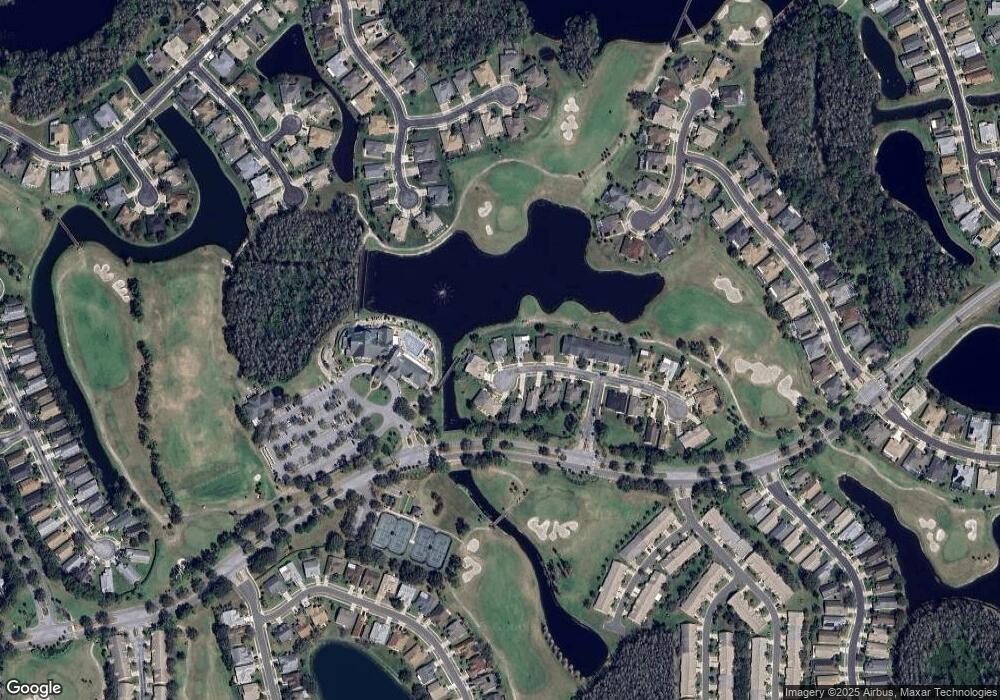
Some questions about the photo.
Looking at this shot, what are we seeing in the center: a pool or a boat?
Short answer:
pool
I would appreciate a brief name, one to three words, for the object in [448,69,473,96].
house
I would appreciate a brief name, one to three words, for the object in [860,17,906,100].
pond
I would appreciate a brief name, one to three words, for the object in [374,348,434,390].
building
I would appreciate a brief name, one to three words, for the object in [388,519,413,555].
tennis court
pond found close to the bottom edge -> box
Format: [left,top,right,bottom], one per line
[312,640,410,700]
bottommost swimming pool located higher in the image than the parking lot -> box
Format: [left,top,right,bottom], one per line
[394,322,439,362]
